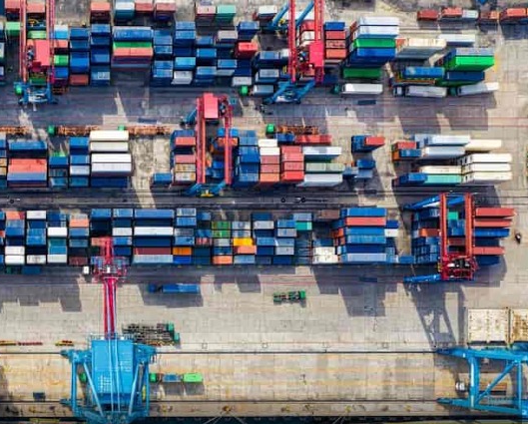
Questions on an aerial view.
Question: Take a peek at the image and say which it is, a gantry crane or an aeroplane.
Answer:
gantry crane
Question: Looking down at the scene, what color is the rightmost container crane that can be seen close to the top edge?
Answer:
red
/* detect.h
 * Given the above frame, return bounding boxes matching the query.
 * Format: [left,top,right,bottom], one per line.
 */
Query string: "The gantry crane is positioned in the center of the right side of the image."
[399,193,476,285]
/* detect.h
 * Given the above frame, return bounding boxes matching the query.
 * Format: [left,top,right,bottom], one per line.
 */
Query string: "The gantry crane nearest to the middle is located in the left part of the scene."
[182,93,232,197]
